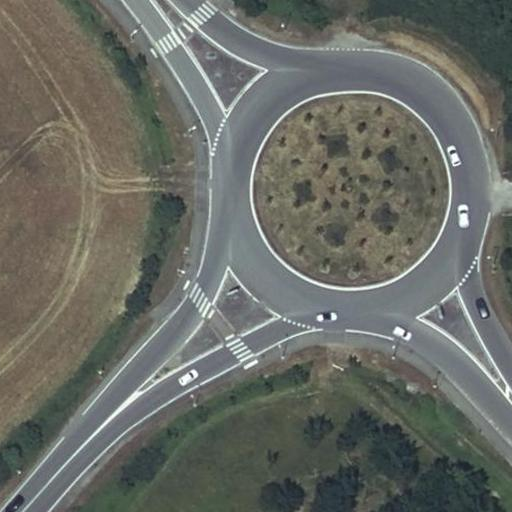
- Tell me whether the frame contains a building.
No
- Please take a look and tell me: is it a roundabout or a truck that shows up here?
roundabout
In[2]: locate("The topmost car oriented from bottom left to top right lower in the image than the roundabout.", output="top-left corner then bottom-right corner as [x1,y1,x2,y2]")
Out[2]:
[178,368,199,386]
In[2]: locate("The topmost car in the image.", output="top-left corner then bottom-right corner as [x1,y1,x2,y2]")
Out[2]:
[448,145,462,166]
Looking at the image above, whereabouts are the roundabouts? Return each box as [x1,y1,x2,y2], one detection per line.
[180,48,492,340]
